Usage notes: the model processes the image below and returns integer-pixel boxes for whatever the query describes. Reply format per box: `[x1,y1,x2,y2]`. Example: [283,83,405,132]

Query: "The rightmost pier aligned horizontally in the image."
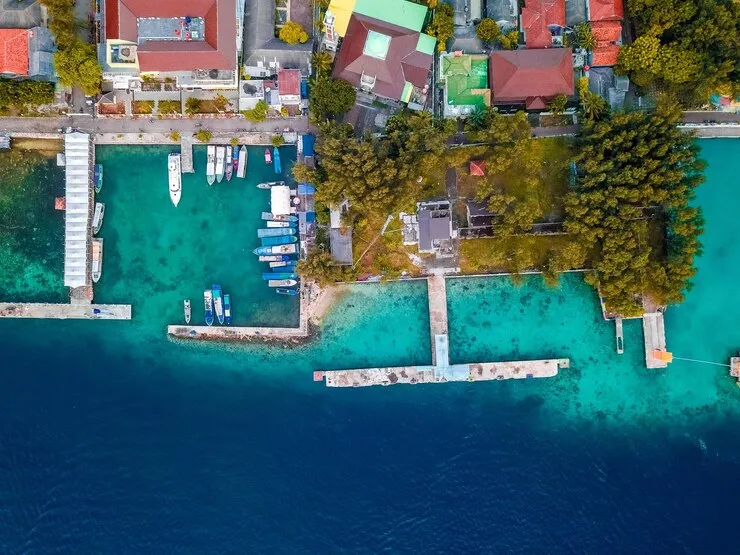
[325,357,559,389]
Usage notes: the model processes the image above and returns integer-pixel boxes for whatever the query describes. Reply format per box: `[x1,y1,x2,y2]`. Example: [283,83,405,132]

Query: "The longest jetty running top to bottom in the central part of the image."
[428,277,449,367]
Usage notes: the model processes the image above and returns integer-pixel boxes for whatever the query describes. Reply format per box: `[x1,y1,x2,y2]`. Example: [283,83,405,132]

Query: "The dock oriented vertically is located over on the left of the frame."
[181,143,197,173]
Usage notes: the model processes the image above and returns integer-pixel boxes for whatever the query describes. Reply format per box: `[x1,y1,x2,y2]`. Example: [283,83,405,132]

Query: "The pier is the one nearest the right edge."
[641,313,668,369]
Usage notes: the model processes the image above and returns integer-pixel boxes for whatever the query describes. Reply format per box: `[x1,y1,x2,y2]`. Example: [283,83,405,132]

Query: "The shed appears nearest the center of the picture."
[330,229,353,265]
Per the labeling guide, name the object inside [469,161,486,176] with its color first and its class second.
red gazebo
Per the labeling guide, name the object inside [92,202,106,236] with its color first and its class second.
white boat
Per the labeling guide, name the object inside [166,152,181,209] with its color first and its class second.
white boat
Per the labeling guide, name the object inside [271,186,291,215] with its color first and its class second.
white vessel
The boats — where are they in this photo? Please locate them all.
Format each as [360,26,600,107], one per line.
[205,145,215,186]
[265,148,272,165]
[215,146,225,184]
[257,228,297,237]
[212,283,225,325]
[261,236,298,246]
[259,255,289,262]
[251,242,298,254]
[92,238,103,283]
[225,146,233,182]
[269,260,299,267]
[272,266,298,273]
[257,181,286,188]
[94,164,103,194]
[262,272,297,280]
[203,289,215,325]
[236,145,248,179]
[275,147,281,176]
[276,288,298,295]
[233,145,239,173]
[262,212,298,222]
[92,202,106,236]
[269,280,297,288]
[166,152,181,209]
[223,294,232,324]
[183,298,191,324]
[267,220,298,228]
